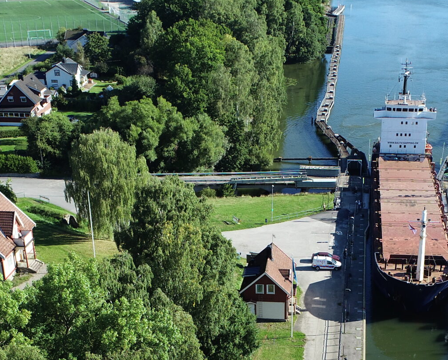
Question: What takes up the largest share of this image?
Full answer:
The scene is dominated by trees.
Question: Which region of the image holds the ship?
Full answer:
Look in the right portion of the view to spot the ship.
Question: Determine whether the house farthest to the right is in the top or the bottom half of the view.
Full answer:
You can find the house farthest to the right in the bottom half.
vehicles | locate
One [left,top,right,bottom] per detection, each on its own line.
[312,253,343,269]
[311,250,341,260]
